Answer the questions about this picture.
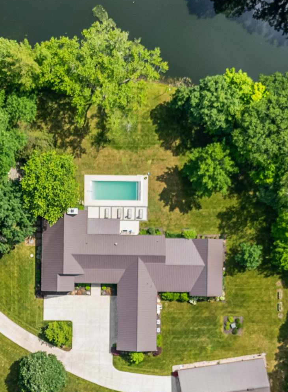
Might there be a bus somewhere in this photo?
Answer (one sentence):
No, no bus is visible in the scene.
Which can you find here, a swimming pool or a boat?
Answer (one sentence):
It is a swimming pool that can be seen here.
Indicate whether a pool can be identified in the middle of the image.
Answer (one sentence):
Yes, looking in the middle of the image, one can make out a pool.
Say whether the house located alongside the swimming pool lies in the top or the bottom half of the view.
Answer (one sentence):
It is in the bottom half that the house located alongside the swimming pool appears.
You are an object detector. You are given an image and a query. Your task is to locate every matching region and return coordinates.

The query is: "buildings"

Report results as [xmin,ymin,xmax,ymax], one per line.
[177,358,270,392]
[41,208,224,352]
